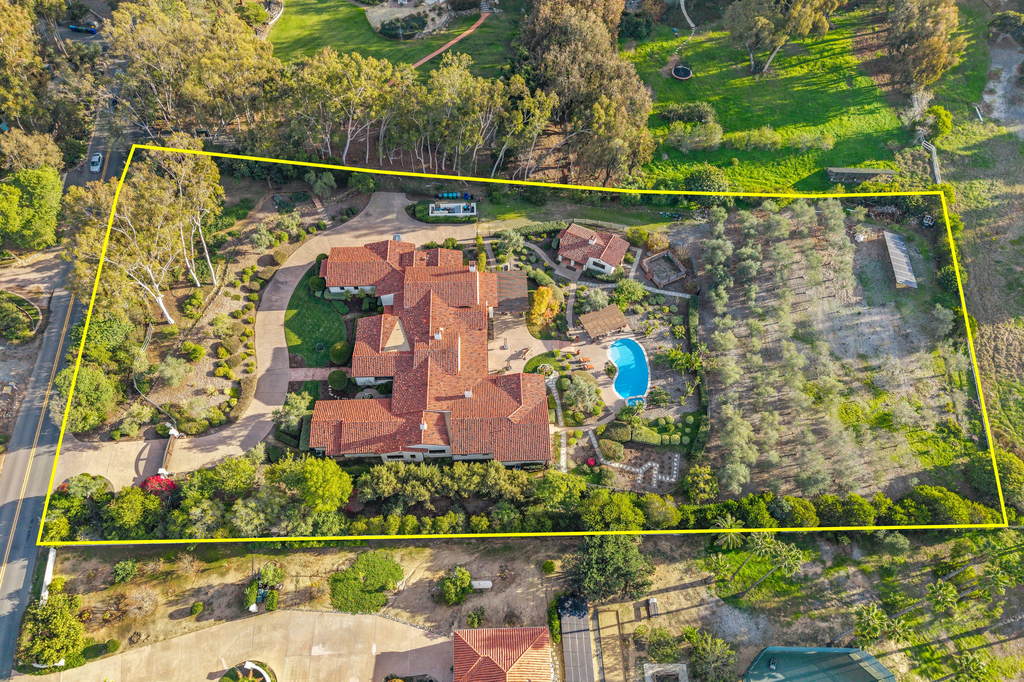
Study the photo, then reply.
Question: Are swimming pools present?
Yes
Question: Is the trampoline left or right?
right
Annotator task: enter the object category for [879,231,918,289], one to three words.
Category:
solar array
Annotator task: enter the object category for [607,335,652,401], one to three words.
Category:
swimming pool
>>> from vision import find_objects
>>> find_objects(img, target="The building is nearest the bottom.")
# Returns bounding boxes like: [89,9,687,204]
[451,628,551,682]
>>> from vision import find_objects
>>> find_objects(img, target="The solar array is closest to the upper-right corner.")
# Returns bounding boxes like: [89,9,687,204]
[826,167,899,182]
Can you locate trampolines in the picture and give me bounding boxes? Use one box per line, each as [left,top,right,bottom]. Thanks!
[672,59,694,81]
